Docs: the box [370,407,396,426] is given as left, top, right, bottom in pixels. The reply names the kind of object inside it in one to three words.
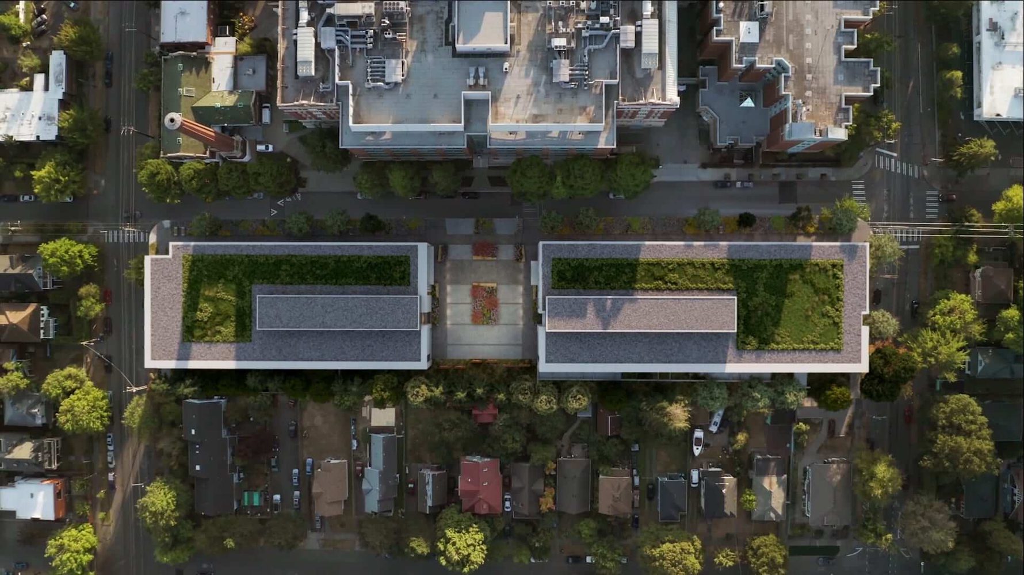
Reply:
building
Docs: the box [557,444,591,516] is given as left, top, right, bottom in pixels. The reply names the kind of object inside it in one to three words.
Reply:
house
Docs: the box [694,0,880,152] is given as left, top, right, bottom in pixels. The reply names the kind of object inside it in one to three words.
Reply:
building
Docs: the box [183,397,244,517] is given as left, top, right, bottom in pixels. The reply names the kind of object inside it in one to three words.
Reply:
house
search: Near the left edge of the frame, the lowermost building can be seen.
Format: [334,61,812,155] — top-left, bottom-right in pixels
[0,473,74,520]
